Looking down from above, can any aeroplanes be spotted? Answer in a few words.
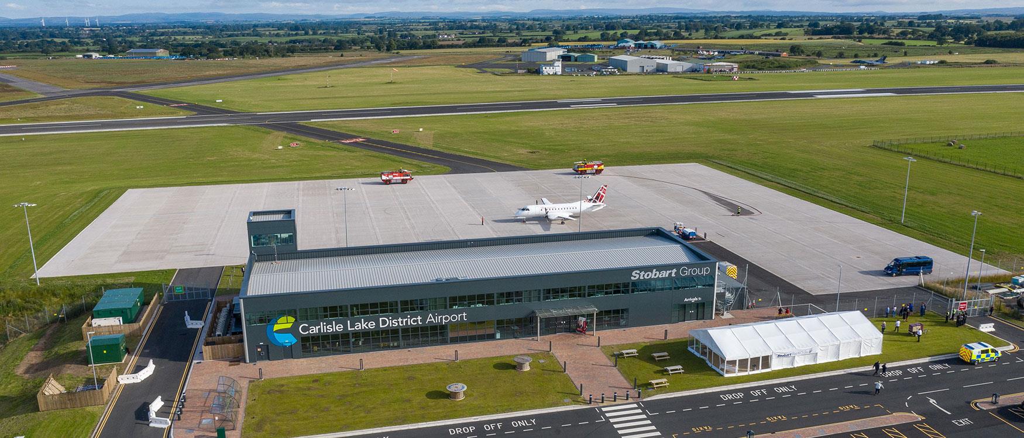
Yes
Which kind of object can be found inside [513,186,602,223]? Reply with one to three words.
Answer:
airplane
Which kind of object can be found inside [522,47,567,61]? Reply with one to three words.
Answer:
hangar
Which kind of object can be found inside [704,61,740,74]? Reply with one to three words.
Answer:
building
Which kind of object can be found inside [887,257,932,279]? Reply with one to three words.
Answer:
vehicle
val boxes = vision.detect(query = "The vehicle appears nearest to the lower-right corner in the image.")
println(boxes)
[958,342,1003,364]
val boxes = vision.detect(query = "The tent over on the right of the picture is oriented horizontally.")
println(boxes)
[686,310,884,376]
